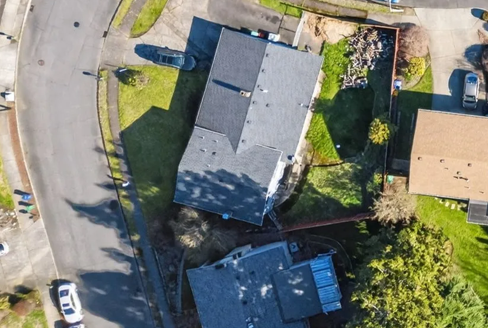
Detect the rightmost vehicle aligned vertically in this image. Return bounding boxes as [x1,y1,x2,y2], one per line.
[461,70,480,111]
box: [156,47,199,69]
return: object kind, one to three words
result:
car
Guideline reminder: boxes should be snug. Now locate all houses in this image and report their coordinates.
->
[186,232,322,328]
[409,108,488,225]
[173,23,326,228]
